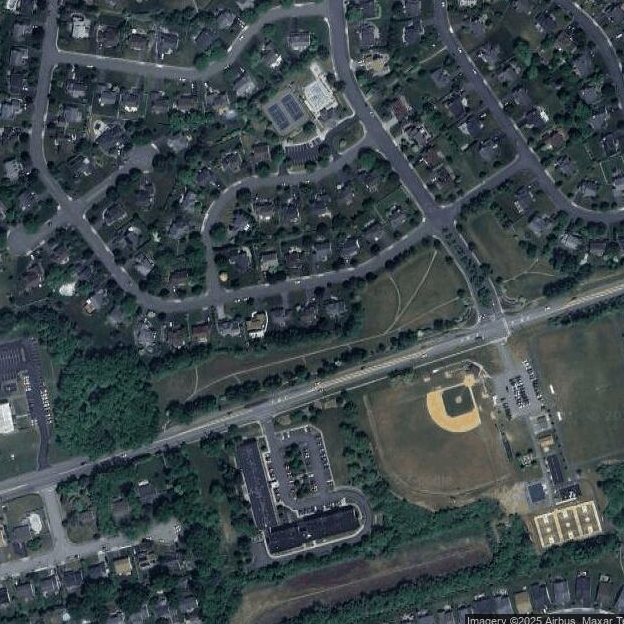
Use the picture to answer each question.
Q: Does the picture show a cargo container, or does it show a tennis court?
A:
tennis court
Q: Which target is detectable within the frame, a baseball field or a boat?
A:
baseball field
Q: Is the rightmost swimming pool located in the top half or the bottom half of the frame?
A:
top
